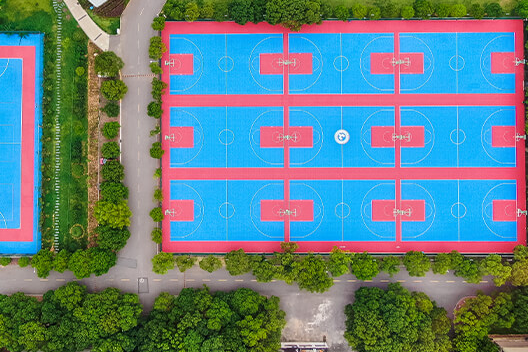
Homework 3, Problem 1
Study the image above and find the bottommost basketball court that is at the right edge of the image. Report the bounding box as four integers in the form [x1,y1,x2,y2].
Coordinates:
[401,180,518,241]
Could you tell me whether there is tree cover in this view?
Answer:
Yes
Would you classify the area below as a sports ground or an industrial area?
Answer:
sports ground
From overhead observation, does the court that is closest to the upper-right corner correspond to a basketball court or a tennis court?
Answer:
basketball court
